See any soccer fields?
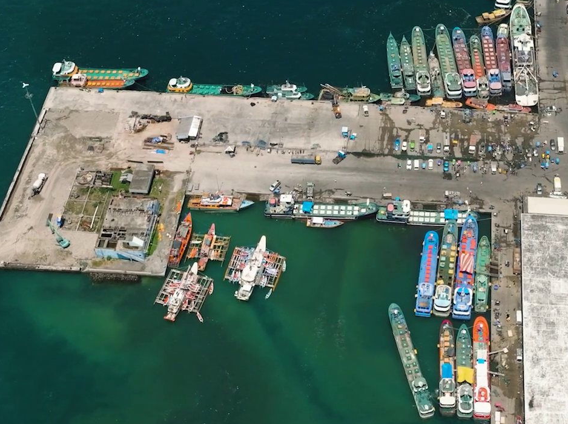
No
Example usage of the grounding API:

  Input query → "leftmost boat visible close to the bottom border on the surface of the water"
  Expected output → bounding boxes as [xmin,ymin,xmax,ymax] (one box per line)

[391,301,435,423]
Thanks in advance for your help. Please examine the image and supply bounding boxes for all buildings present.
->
[94,196,160,264]
[521,214,568,424]
[177,116,202,144]
[130,165,154,197]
